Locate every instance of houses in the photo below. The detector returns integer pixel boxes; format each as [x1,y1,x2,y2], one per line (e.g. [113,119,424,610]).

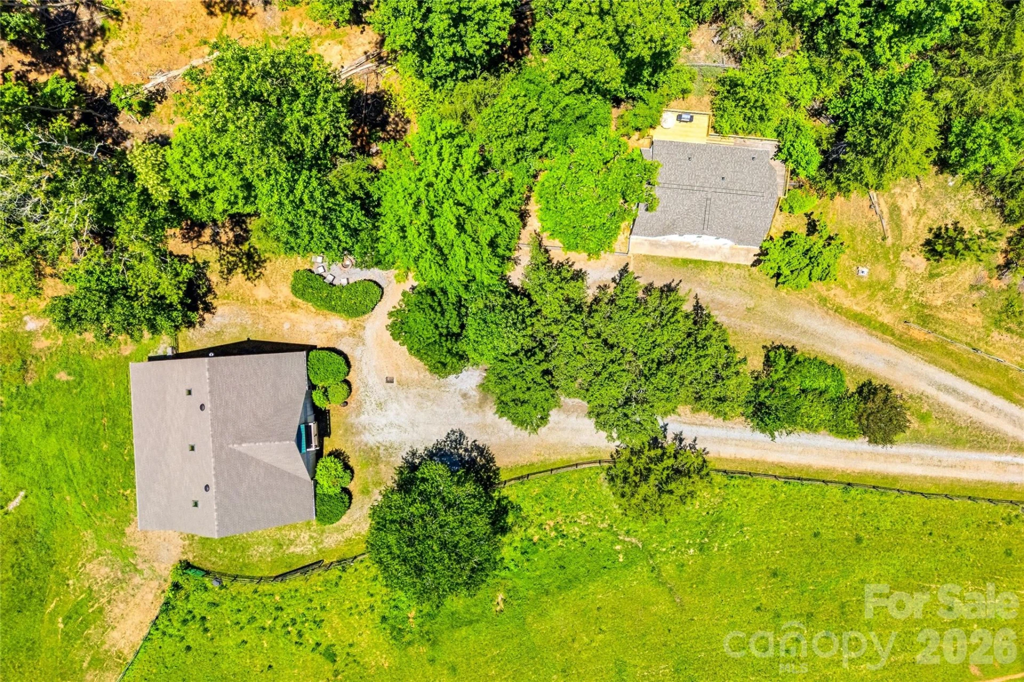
[631,109,790,248]
[129,350,330,538]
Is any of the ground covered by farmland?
Yes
